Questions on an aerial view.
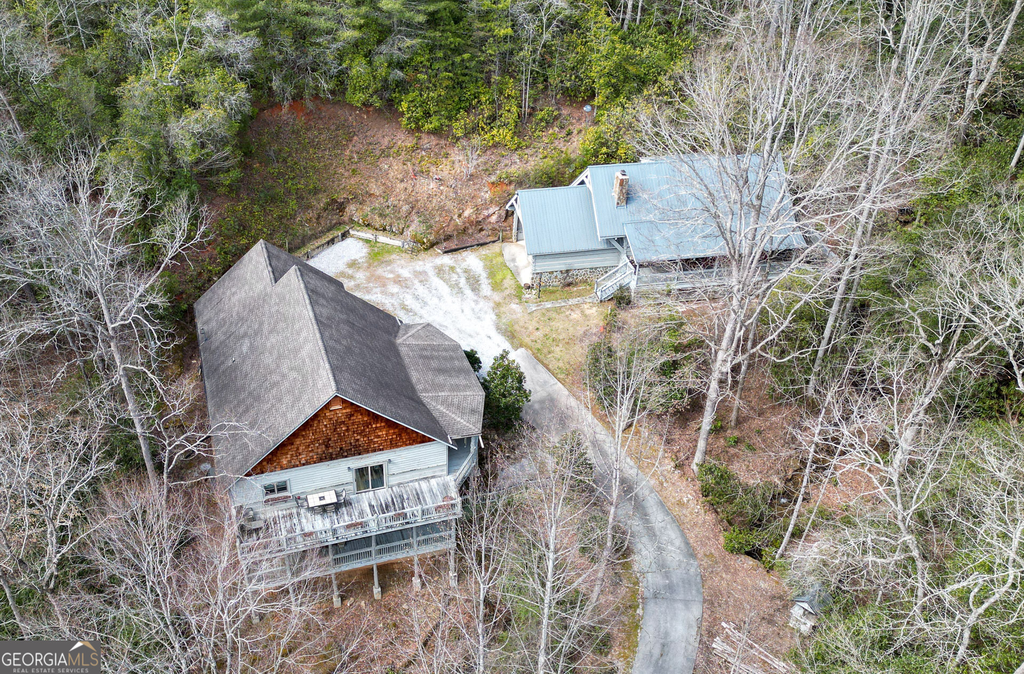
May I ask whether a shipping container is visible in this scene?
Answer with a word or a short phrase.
No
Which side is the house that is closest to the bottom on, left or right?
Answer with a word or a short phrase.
right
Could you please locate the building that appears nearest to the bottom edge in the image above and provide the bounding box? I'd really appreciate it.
[789,588,830,635]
